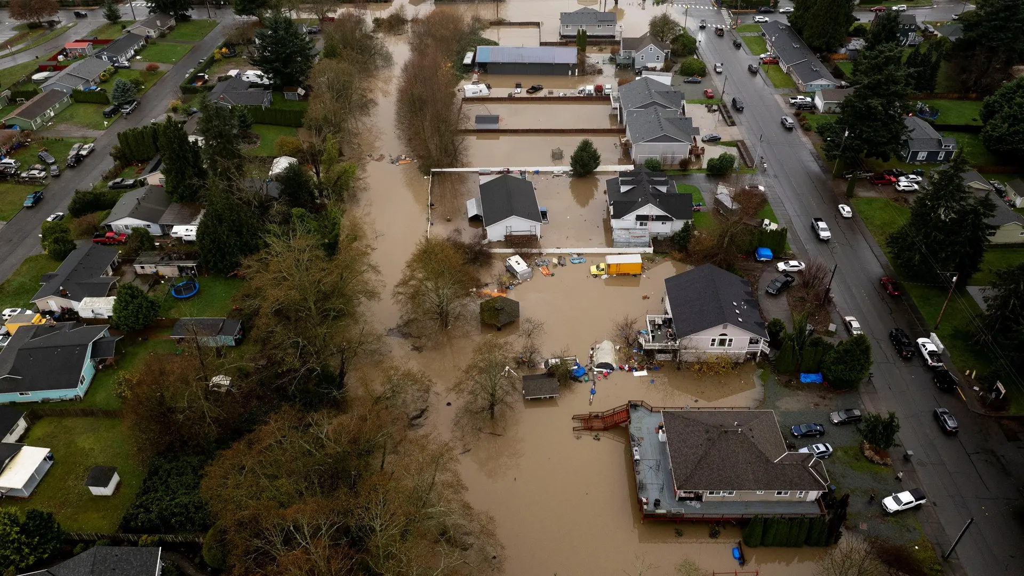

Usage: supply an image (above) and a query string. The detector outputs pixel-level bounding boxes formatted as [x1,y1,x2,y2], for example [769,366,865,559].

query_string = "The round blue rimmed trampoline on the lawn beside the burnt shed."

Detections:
[167,273,199,299]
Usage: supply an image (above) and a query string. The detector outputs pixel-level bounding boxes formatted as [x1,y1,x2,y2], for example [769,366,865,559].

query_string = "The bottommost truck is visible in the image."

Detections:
[879,484,933,513]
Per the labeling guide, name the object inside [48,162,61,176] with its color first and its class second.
gray vehicle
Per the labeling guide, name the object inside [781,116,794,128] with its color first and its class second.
gray vehicle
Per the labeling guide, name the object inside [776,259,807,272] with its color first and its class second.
white vehicle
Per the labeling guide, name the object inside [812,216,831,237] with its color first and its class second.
white vehicle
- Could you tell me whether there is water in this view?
Yes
